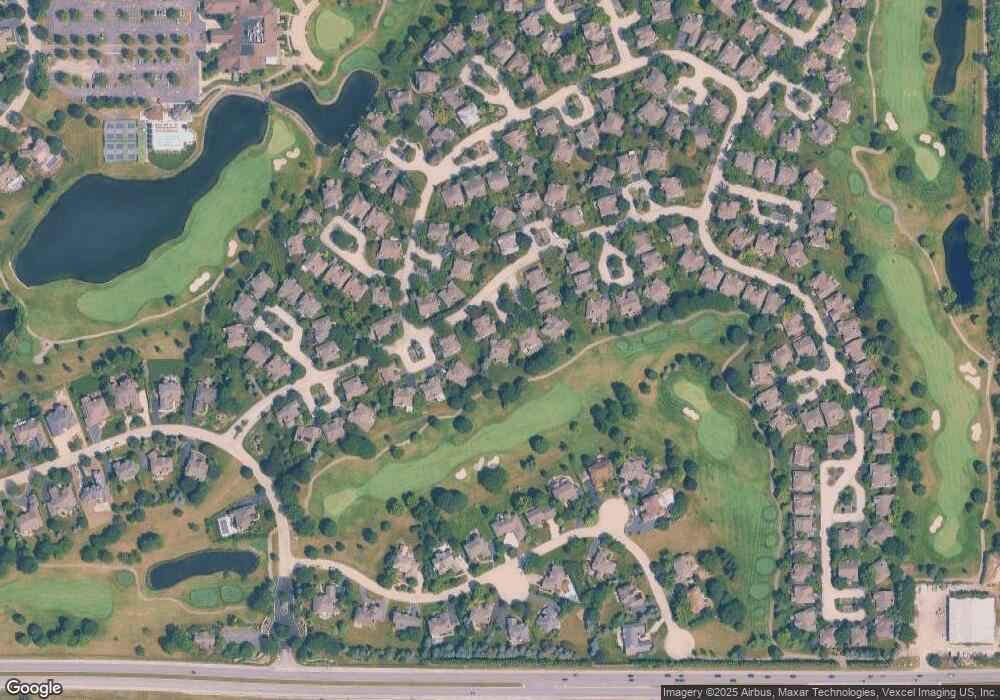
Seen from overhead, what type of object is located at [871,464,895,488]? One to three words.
house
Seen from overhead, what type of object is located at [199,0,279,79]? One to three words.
building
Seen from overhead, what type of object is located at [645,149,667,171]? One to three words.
house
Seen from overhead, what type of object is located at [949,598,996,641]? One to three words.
building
